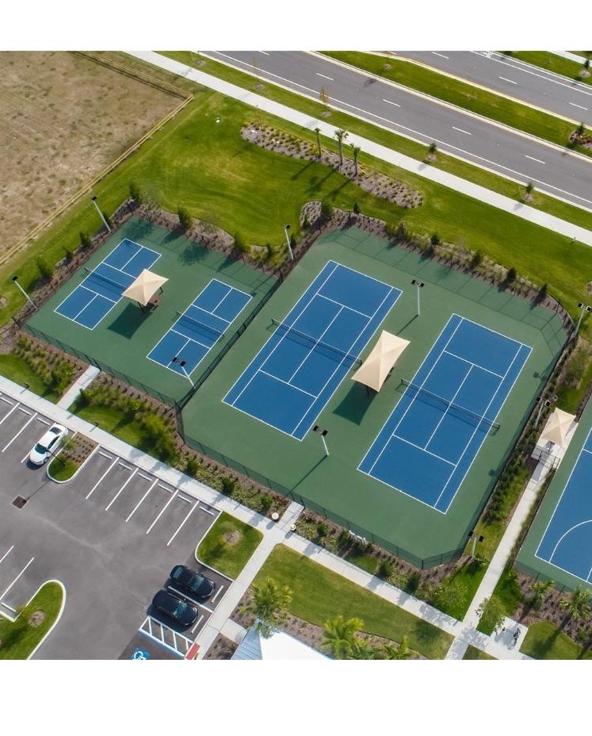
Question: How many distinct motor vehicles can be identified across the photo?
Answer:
3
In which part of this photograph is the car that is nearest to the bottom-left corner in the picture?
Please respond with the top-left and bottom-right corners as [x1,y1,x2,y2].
[150,590,199,628]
